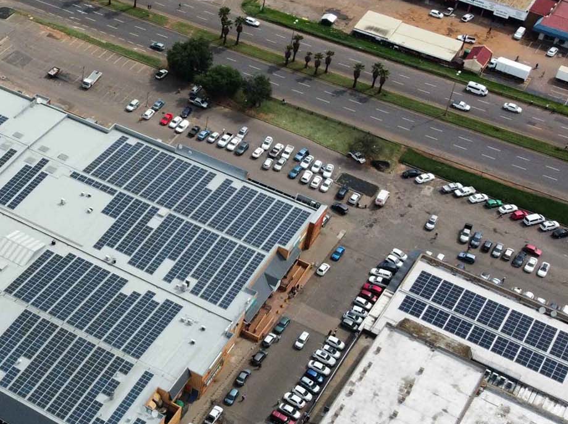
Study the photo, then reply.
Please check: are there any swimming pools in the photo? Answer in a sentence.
No, no swimming pool can be seen from above.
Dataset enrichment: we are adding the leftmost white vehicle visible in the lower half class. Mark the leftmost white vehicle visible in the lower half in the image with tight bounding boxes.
[204,406,223,424]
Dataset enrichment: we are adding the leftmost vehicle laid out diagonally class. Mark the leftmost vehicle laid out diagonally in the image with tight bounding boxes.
[83,73,102,88]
